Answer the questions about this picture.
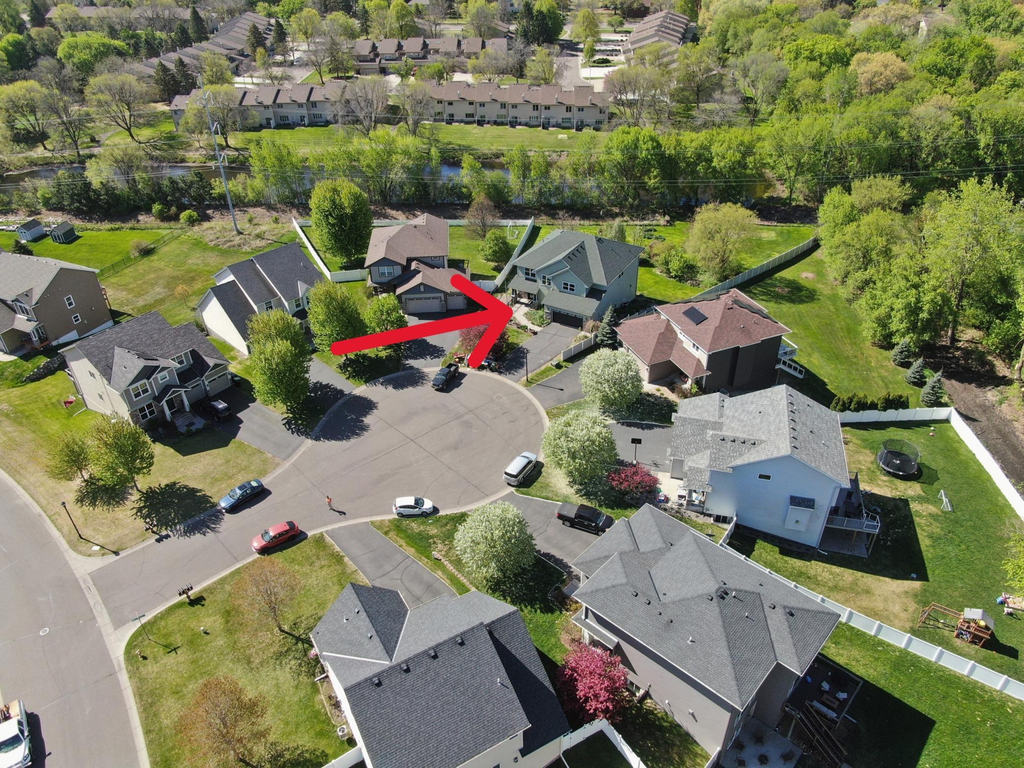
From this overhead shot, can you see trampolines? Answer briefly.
Yes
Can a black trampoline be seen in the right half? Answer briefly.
Yes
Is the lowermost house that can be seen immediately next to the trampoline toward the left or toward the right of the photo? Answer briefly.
right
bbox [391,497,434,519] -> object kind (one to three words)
car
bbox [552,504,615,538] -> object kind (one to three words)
vehicle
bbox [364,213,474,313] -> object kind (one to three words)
house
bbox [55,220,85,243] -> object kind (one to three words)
shed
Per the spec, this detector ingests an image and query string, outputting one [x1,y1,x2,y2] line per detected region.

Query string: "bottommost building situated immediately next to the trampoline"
[668,378,883,553]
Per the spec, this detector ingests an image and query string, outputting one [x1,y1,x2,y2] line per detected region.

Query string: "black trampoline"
[882,441,928,484]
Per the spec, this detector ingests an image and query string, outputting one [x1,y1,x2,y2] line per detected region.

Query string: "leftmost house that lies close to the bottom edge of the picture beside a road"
[305,570,576,768]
